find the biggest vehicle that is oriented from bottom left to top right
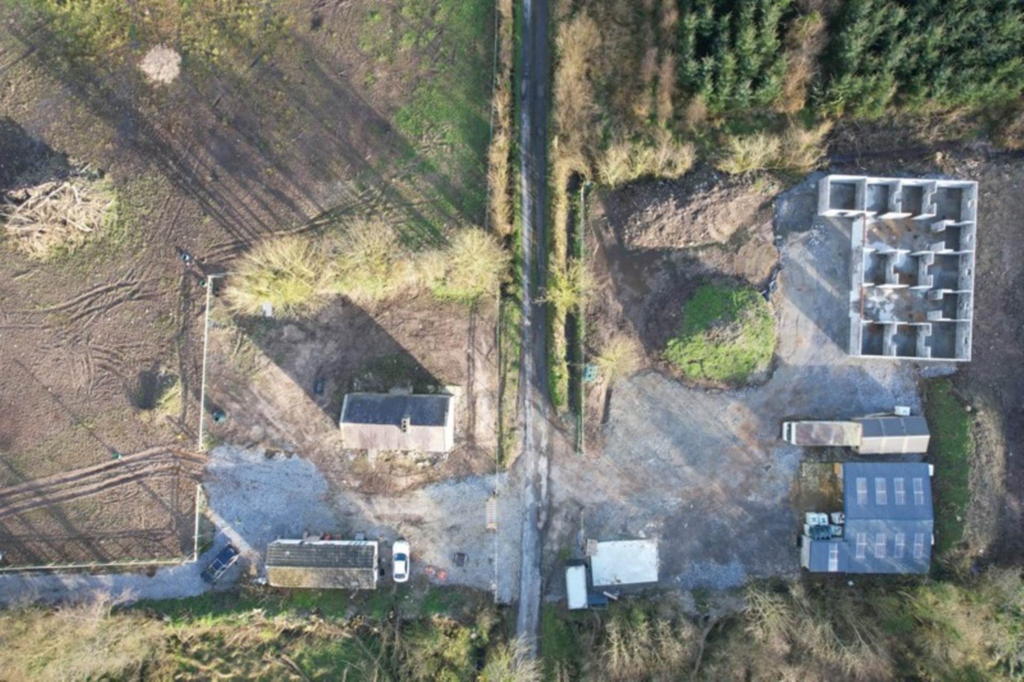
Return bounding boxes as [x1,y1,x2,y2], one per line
[201,541,238,585]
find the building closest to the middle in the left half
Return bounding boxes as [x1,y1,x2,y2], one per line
[344,383,453,453]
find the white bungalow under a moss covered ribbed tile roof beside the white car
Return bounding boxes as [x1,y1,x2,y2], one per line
[267,539,381,591]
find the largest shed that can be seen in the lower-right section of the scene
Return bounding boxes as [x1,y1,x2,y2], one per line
[799,458,934,575]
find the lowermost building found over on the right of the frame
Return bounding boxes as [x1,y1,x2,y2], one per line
[589,534,658,586]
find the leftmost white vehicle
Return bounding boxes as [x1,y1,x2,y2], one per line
[390,540,411,582]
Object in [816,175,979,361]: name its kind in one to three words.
house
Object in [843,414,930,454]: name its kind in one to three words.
shed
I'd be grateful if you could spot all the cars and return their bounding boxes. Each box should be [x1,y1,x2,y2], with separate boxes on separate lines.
[390,540,411,582]
[201,541,238,585]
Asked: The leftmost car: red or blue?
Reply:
blue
